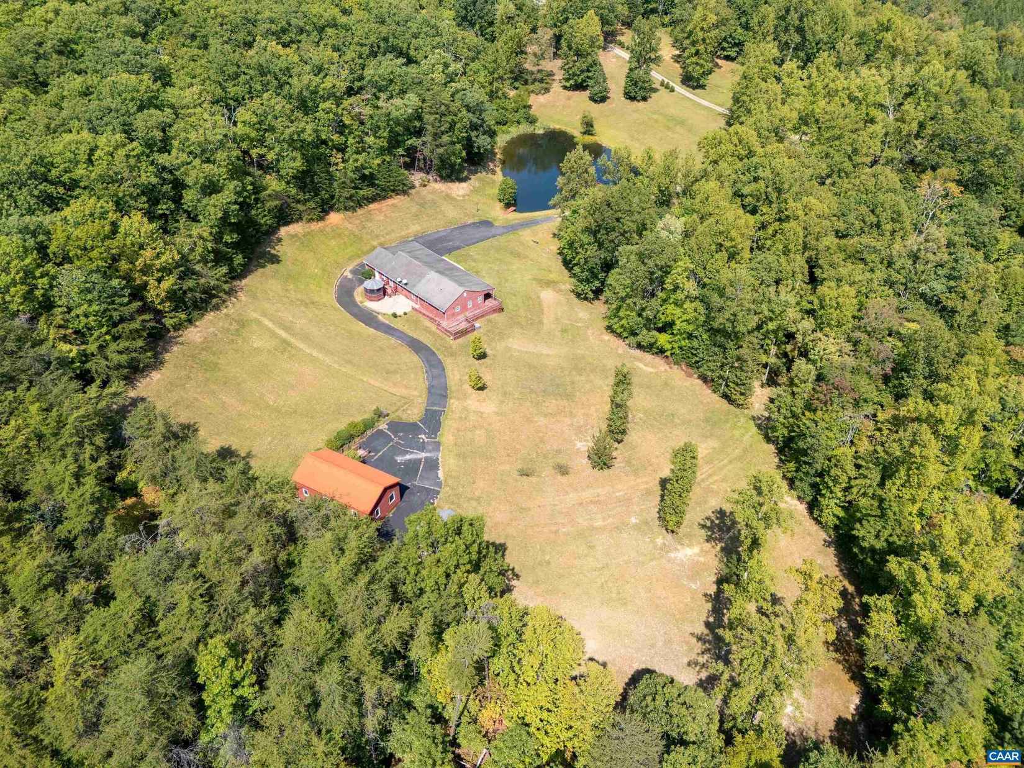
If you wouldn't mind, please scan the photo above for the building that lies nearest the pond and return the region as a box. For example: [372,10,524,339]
[363,241,495,322]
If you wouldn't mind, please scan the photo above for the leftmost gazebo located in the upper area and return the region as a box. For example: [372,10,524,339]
[361,279,382,301]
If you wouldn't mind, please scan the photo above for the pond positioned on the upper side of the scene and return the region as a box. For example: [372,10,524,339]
[495,130,627,215]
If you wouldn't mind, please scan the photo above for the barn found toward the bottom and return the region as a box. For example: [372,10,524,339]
[293,448,401,522]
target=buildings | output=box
[363,241,495,322]
[293,448,401,522]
